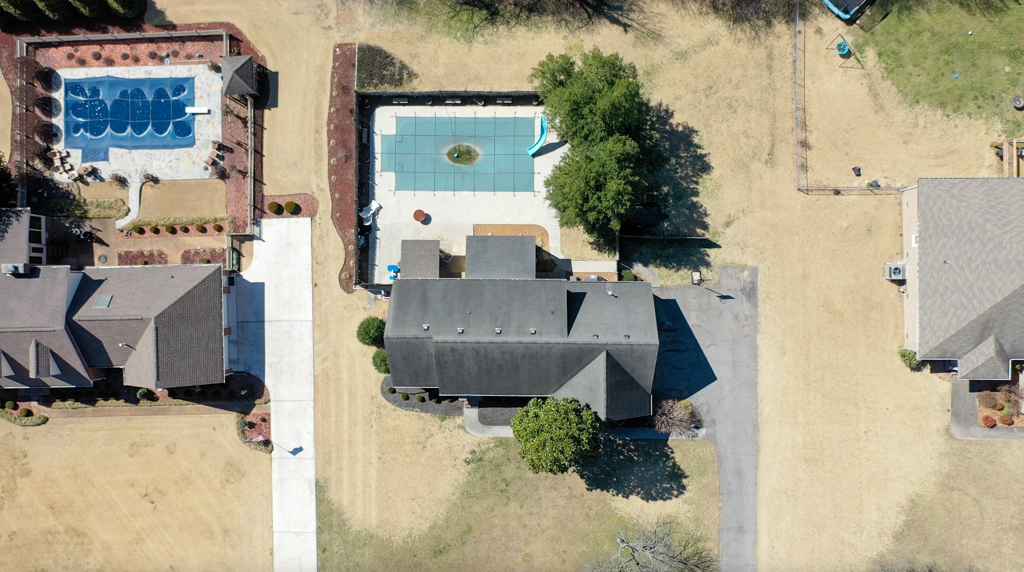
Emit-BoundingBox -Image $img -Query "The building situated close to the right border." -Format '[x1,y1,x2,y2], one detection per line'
[903,177,1024,381]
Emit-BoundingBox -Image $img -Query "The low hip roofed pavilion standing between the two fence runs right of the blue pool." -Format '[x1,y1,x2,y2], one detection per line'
[222,55,261,98]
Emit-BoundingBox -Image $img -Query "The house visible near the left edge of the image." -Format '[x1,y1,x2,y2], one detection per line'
[0,206,233,397]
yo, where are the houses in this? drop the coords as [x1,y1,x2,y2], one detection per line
[384,278,660,422]
[0,206,233,397]
[903,177,1024,381]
